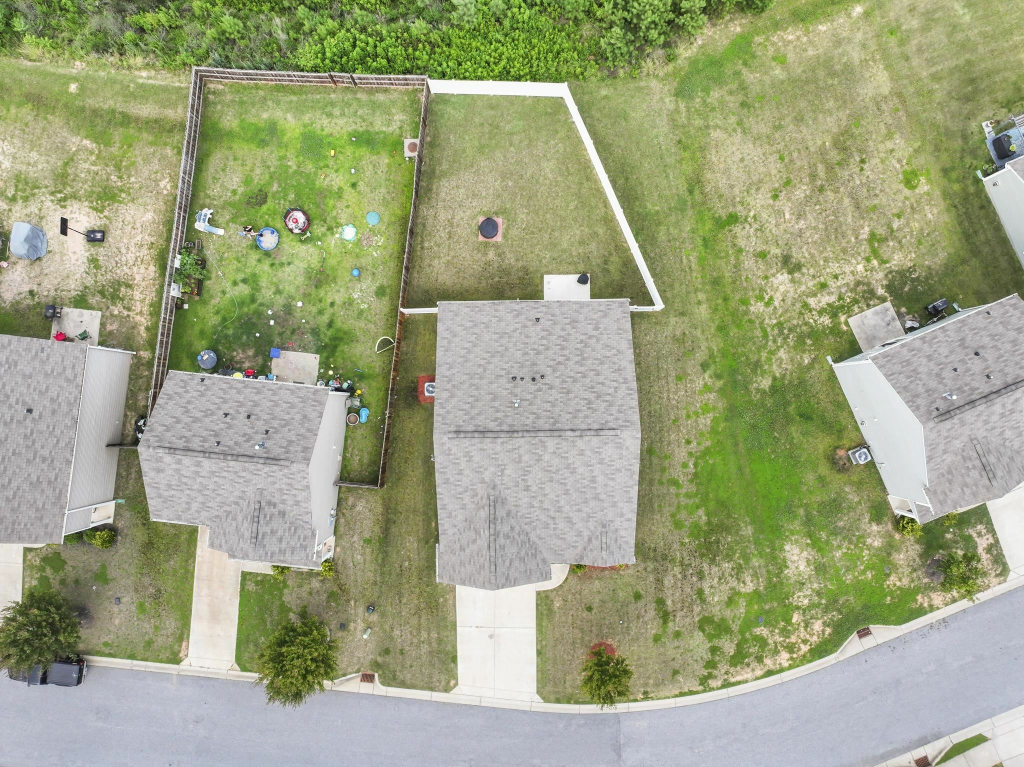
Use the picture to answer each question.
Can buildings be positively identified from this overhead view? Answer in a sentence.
Yes, a building can be made out from above.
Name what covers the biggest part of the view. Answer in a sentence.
Most of the picture is covered by grass.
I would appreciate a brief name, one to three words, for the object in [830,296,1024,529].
house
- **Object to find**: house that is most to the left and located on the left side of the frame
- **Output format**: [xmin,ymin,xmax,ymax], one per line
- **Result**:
[0,334,134,548]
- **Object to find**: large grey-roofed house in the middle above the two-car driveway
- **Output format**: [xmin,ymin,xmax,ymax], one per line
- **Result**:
[433,298,641,589]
